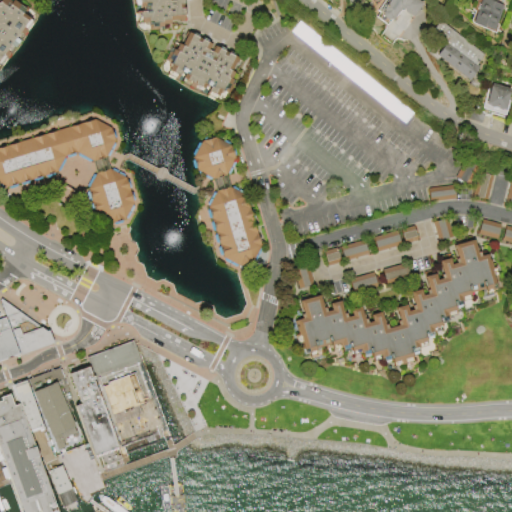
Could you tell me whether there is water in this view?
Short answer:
Yes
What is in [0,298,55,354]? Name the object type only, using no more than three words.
building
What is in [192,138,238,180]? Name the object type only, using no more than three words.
building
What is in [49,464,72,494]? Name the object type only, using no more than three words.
shed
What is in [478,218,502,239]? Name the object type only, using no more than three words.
house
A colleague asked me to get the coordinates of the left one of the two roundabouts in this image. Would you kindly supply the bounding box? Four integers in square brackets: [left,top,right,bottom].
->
[46,300,84,338]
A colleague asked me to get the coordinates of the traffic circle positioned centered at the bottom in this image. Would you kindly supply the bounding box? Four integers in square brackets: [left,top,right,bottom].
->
[235,356,275,396]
